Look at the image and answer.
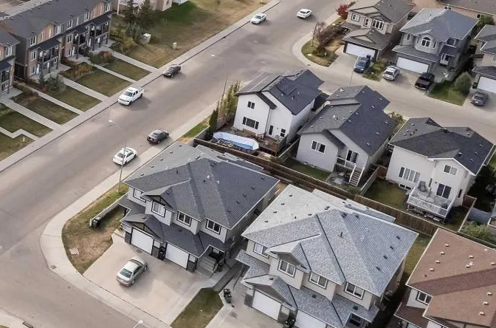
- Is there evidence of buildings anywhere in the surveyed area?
Yes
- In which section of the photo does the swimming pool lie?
center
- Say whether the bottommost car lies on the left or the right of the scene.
left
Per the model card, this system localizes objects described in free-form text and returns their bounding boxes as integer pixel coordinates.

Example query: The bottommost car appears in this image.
[113,253,151,285]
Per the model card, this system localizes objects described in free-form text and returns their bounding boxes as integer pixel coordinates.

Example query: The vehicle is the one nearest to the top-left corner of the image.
[117,84,148,104]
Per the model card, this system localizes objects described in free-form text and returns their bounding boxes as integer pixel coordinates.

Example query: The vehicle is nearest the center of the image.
[142,126,170,146]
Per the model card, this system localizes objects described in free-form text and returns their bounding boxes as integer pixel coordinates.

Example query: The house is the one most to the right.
[465,22,496,94]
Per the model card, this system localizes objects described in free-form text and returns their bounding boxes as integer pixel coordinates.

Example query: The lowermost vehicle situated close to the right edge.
[468,88,489,104]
